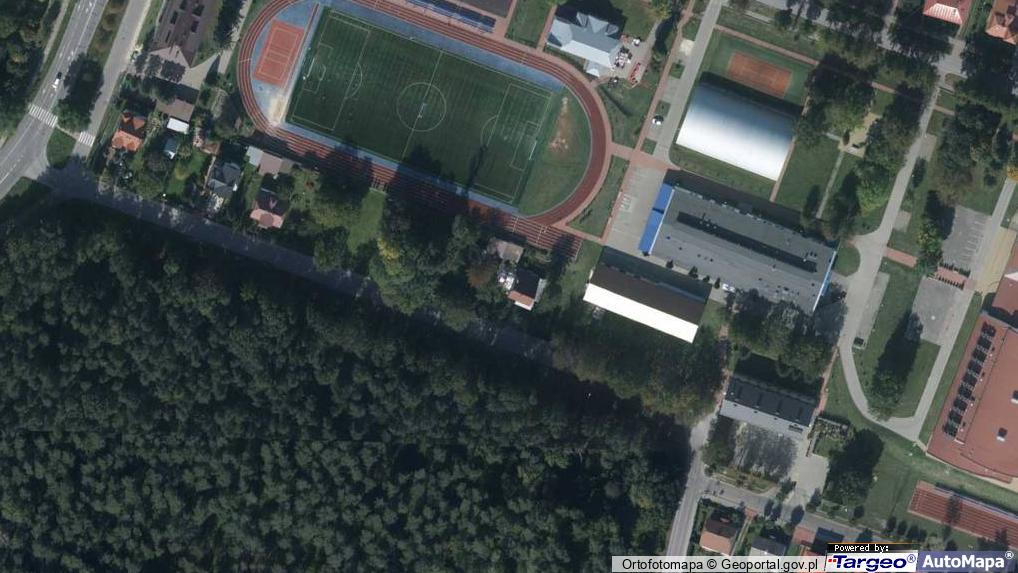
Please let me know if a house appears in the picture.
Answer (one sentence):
Yes, looking at the shot, I can spot a house.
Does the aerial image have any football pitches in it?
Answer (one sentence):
Yes, the frame does contain a football pitch.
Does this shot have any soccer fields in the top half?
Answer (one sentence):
Yes, a soccer field can be seen in the top half.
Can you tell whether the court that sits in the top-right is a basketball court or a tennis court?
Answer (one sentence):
Specifically, the court that sits in the top-right is a tennis court.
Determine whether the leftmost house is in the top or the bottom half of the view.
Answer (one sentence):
Seen from above, the leftmost house lies in the top half of the view.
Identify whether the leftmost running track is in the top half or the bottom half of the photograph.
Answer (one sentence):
The leftmost running track is in the top half of the image.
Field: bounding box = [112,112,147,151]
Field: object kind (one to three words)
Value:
house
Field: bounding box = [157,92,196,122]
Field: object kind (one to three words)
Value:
building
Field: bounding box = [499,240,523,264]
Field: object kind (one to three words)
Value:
shed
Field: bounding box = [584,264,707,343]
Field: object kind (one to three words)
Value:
building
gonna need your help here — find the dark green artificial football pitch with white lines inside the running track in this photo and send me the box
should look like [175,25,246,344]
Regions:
[283,7,561,208]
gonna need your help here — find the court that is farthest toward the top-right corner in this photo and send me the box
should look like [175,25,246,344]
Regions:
[701,29,818,121]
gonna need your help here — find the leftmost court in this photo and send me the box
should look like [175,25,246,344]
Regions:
[254,20,304,88]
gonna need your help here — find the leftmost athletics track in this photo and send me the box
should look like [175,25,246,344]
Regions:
[240,0,605,257]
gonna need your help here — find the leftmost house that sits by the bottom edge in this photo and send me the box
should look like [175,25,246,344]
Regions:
[700,510,741,555]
